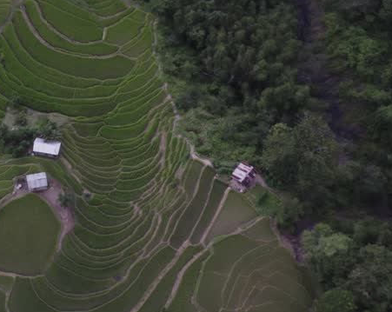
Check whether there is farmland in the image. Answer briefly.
Yes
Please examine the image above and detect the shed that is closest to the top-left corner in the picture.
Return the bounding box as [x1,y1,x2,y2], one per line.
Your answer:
[34,138,62,159]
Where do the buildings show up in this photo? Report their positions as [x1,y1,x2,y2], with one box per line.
[34,138,62,159]
[26,173,49,195]
[229,162,260,188]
